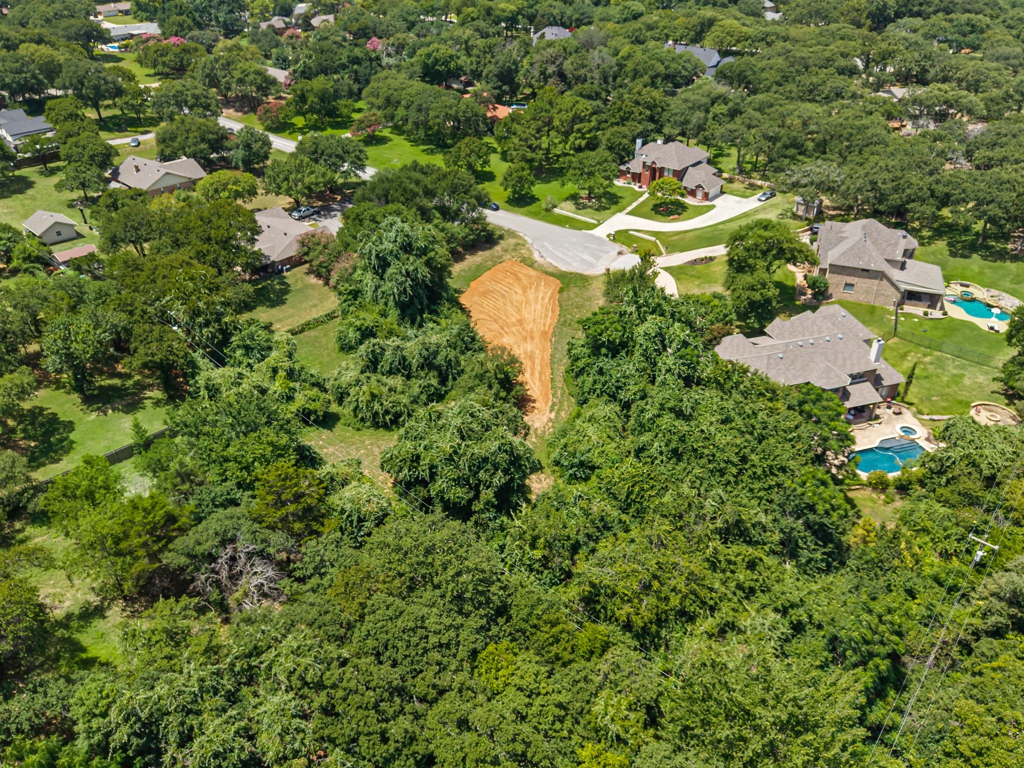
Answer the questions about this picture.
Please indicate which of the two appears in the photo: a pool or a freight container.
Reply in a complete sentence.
The image shows a pool.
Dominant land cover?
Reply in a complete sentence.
What you mostly see from above here is trees.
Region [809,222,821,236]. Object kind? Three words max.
vehicle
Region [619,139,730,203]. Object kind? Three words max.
house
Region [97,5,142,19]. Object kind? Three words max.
house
